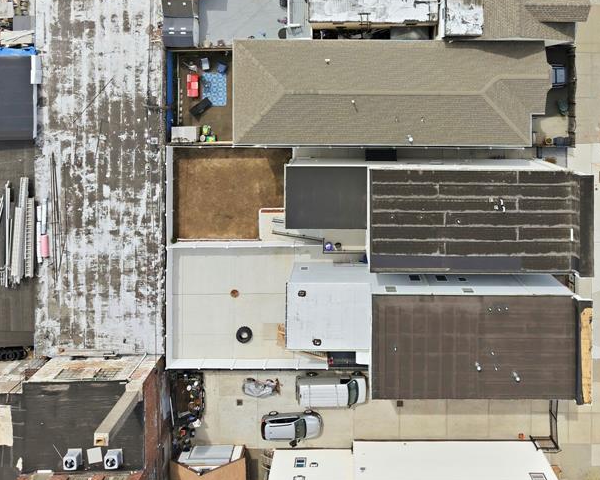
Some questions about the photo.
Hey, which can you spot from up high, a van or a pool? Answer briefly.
van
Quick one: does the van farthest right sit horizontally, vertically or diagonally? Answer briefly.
horizontally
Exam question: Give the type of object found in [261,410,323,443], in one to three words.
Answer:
car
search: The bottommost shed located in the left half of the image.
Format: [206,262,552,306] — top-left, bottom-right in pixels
[170,431,249,480]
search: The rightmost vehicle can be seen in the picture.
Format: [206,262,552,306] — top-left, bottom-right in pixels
[295,373,366,409]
